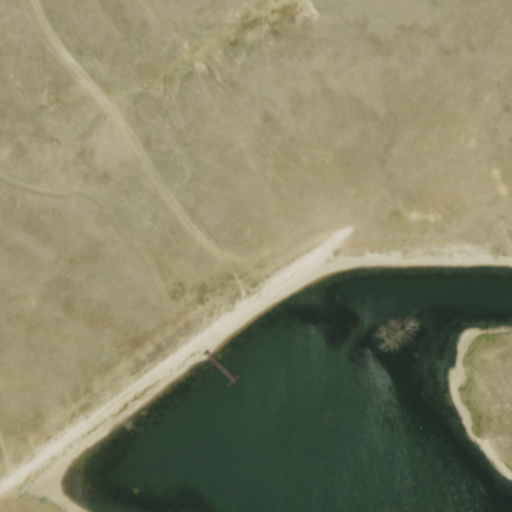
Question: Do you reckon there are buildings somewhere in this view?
No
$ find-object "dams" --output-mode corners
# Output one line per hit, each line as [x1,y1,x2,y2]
[0,228,350,512]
